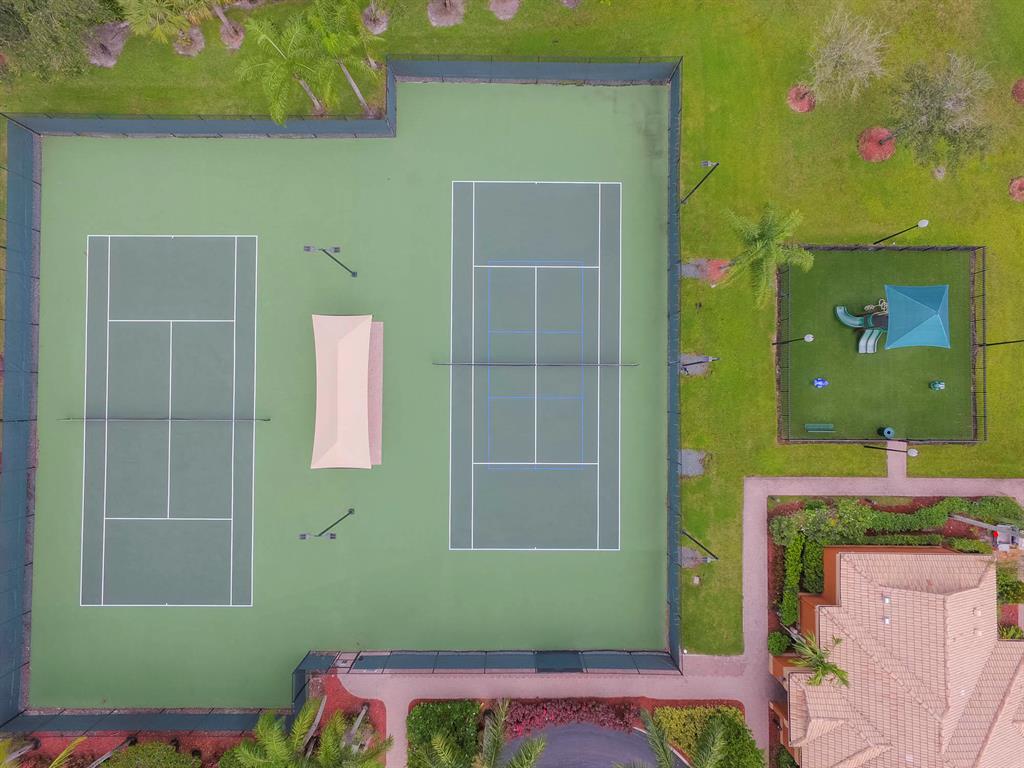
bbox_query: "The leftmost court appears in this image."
[80,235,257,606]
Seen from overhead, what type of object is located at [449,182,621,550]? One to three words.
tennis court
